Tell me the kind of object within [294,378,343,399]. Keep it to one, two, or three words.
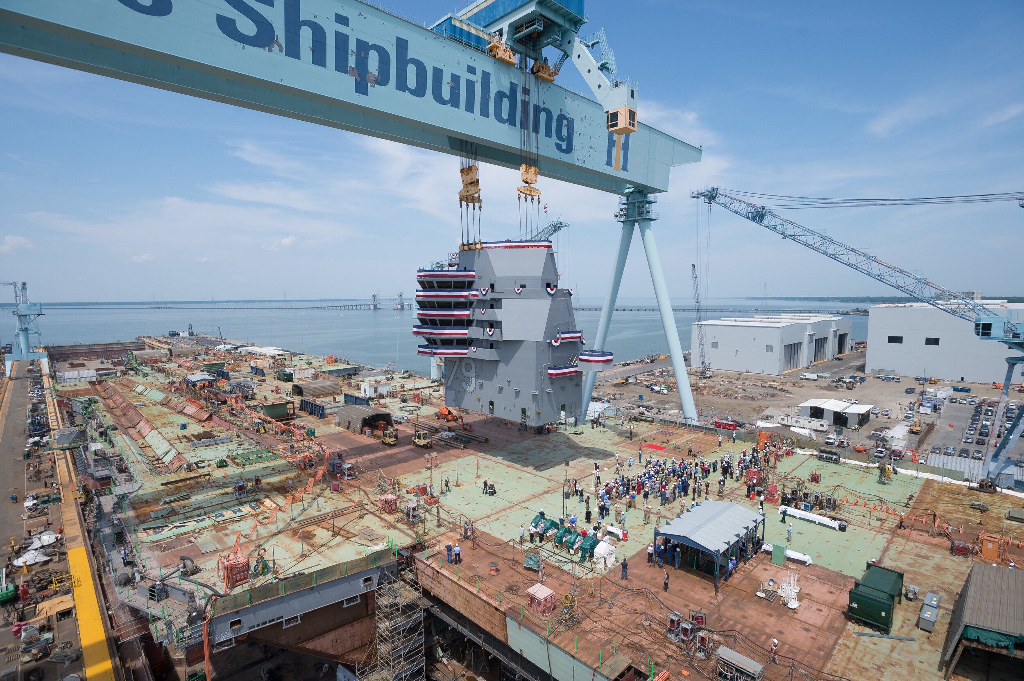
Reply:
shed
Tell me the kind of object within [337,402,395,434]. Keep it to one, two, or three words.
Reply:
shed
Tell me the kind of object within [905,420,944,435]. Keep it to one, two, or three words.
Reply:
work vehicle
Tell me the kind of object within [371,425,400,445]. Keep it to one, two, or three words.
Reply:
work vehicle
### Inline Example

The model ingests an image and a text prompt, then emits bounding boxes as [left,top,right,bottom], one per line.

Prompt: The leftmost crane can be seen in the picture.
[0,281,53,362]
